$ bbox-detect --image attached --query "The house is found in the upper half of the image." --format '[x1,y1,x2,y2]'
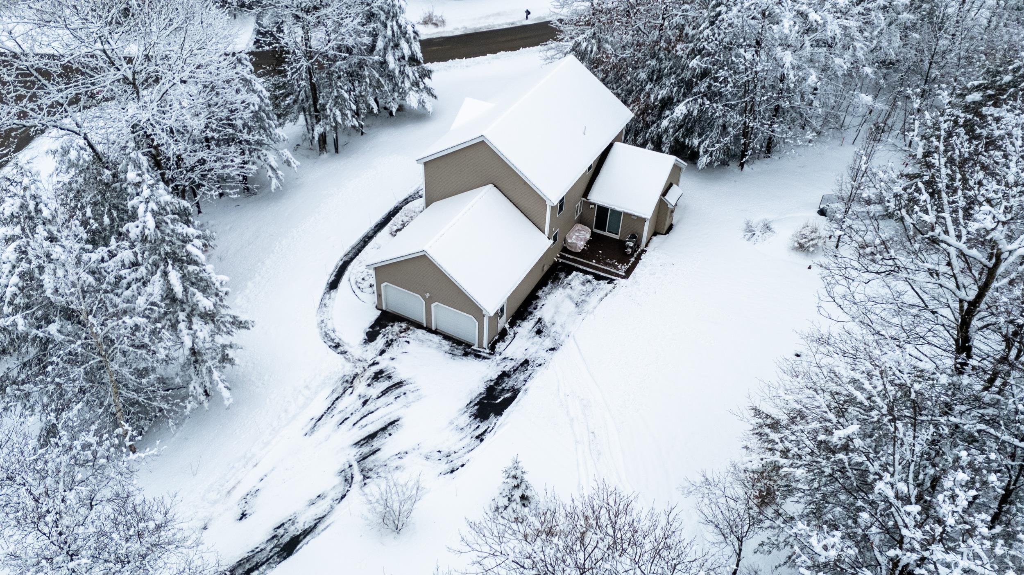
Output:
[365,57,687,353]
